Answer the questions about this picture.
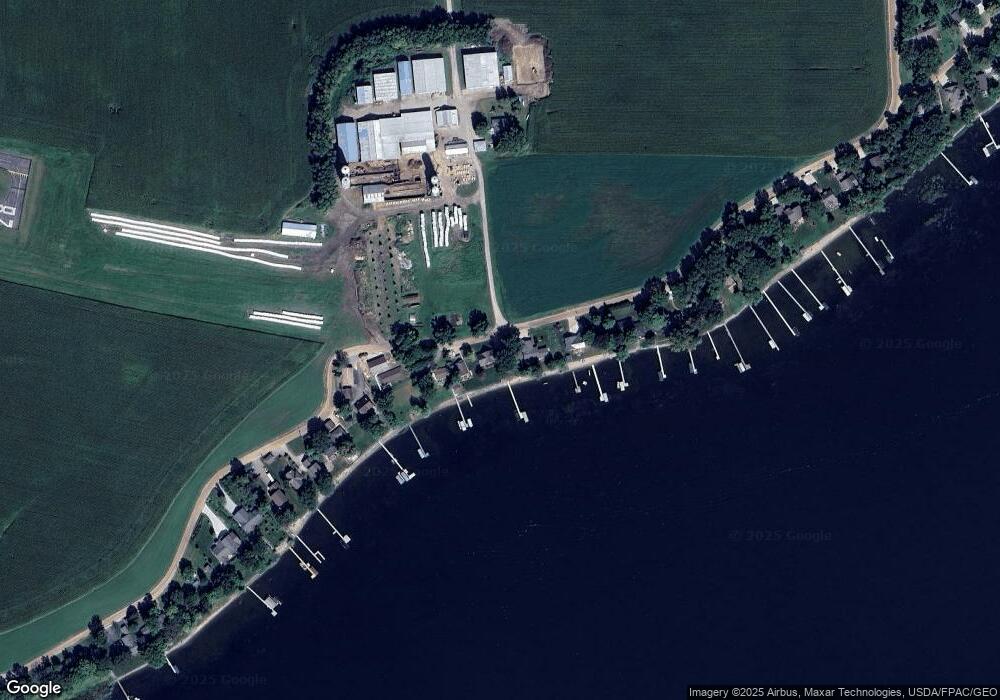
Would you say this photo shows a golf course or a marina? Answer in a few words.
marina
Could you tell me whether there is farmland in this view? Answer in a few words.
Yes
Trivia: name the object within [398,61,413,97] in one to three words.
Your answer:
shed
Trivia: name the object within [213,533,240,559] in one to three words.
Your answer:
house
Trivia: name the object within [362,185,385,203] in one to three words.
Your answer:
barn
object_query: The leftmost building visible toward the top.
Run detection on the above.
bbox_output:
[282,223,316,237]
